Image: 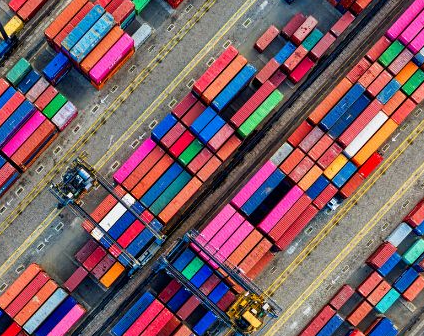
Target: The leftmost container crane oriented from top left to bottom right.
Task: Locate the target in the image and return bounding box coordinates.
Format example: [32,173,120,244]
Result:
[51,155,170,275]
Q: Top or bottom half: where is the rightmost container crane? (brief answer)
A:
bottom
